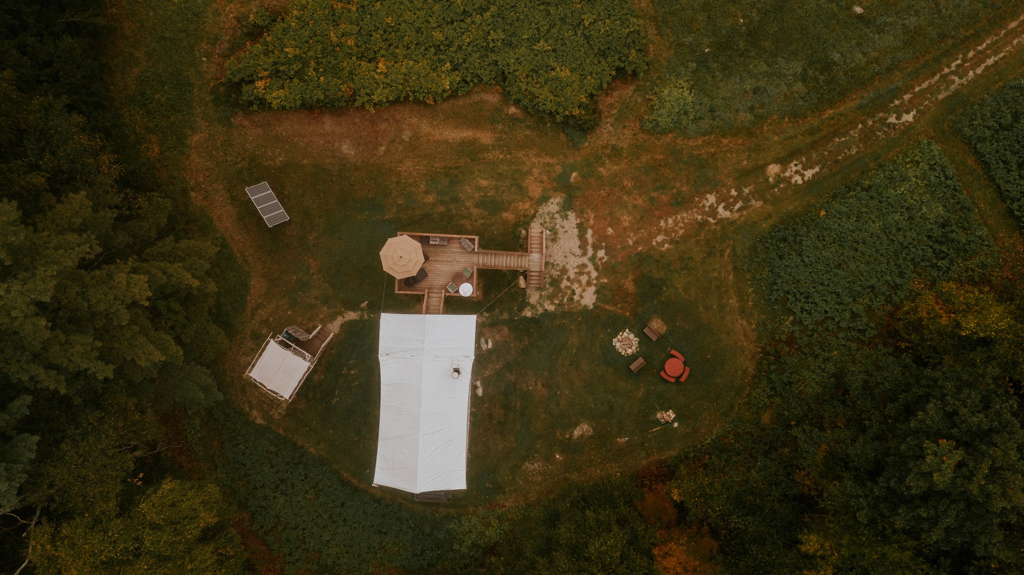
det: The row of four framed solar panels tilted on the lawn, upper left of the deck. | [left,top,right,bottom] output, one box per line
[246,182,289,227]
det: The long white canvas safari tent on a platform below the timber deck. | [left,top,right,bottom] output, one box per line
[373,313,478,502]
